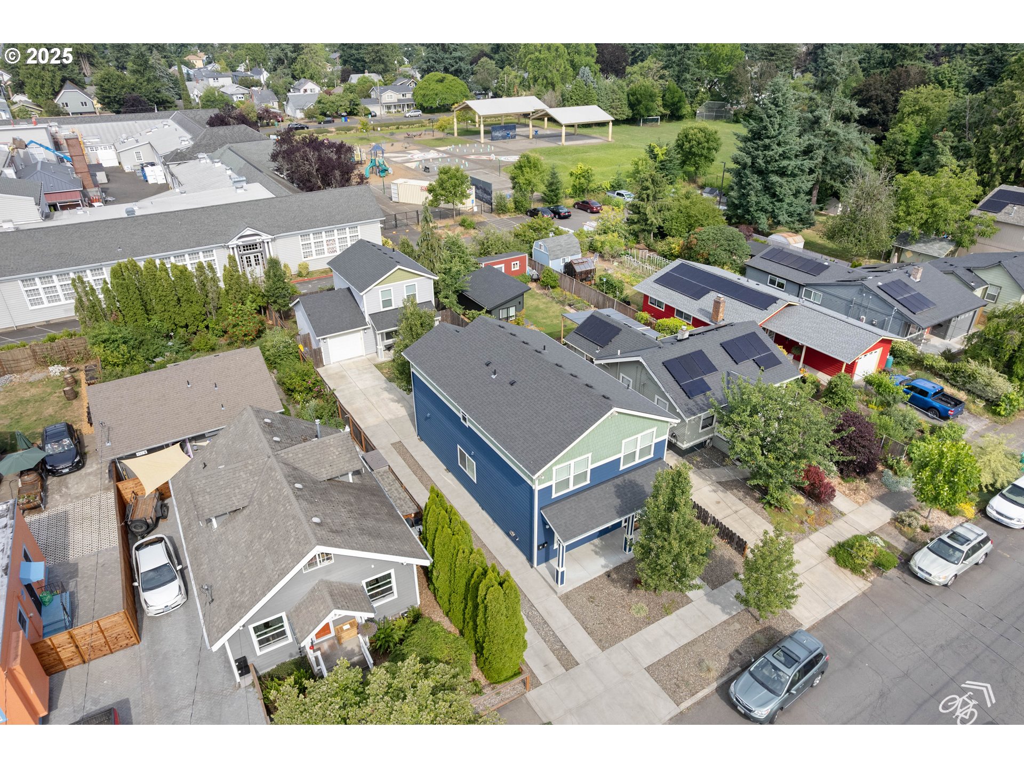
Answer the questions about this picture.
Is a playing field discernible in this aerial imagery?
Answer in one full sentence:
Yes, the image includes a playing field.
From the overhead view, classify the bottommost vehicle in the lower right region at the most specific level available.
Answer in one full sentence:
From above, the bottommost vehicle in the lower right region can be identified as a car.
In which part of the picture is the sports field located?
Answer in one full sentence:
The sports field is located in the top region of the scene.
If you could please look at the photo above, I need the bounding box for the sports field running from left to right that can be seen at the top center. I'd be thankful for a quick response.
[268,111,826,232]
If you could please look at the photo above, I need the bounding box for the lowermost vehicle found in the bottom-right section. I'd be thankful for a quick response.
[717,631,832,729]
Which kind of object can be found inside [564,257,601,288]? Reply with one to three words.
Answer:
greenhouse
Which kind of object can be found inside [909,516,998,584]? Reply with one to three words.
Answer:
car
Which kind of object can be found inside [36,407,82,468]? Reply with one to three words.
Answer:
car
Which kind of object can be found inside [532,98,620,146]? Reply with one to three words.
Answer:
building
